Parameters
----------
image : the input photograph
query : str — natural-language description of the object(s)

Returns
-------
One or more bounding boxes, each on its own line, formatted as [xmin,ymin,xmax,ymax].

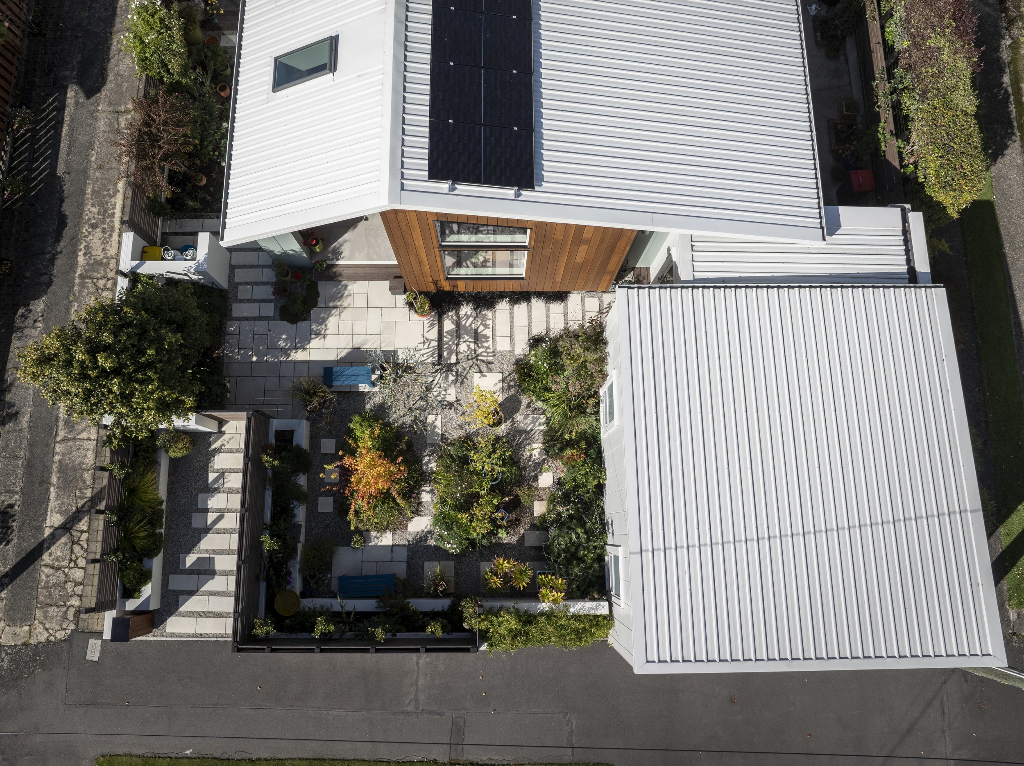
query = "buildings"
[211,0,832,291]
[599,281,1011,676]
